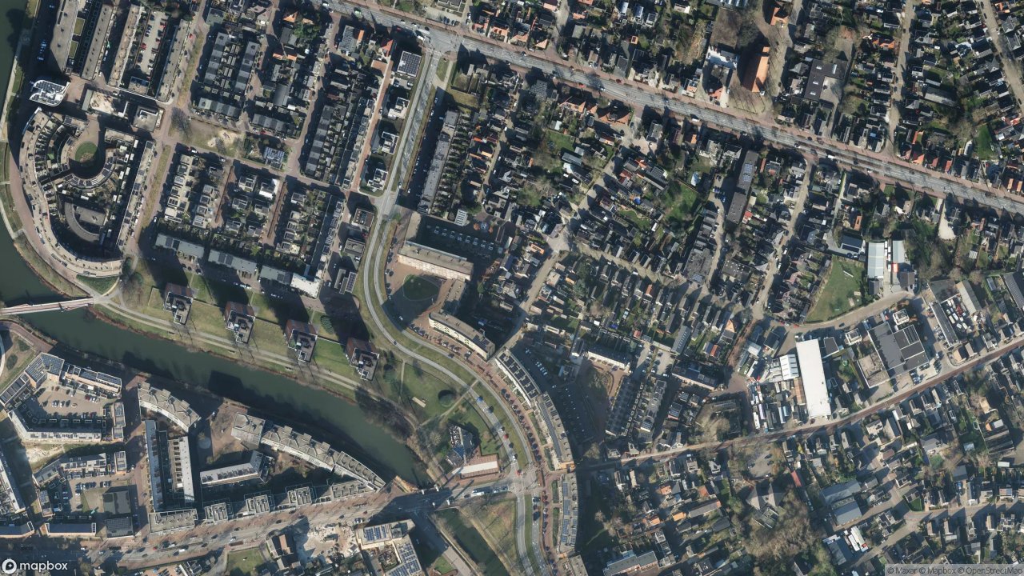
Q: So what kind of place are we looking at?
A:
residential area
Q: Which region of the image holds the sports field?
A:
right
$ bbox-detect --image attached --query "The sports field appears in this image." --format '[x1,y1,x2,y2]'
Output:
[805,254,867,321]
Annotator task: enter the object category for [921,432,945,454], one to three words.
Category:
house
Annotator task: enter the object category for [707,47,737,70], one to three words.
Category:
building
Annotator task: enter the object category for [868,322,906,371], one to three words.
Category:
building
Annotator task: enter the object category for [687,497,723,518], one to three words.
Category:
house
